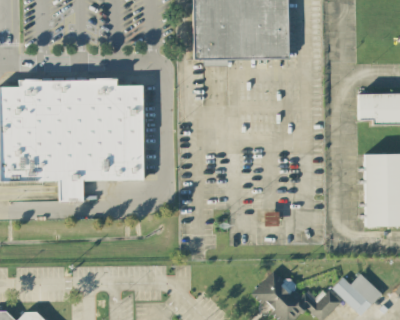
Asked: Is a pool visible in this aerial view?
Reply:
No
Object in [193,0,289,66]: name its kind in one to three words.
building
